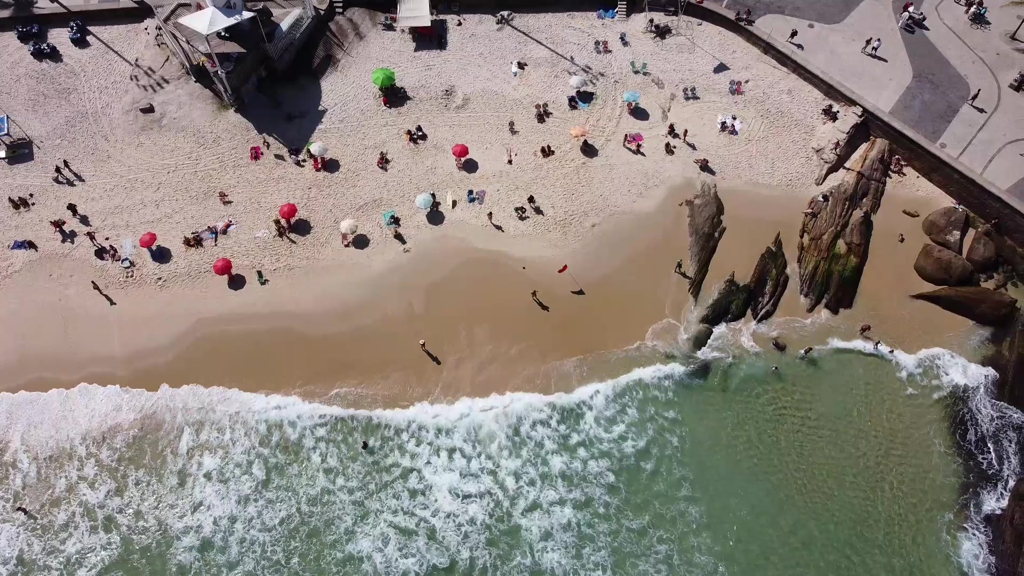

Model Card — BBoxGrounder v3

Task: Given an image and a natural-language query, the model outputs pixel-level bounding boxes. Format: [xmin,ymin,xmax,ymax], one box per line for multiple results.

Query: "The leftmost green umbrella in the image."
[372,72,396,91]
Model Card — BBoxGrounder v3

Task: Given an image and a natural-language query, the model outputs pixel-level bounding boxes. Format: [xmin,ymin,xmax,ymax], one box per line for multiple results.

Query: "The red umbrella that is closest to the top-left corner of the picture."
[140,235,159,251]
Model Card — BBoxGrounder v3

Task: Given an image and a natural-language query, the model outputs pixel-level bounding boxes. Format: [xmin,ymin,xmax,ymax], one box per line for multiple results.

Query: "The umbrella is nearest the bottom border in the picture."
[213,259,235,278]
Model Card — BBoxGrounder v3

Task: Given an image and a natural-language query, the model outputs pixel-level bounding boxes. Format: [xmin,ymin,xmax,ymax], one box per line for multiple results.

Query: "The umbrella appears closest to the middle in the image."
[415,196,434,213]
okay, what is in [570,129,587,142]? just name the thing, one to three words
umbrella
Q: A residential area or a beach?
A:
beach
